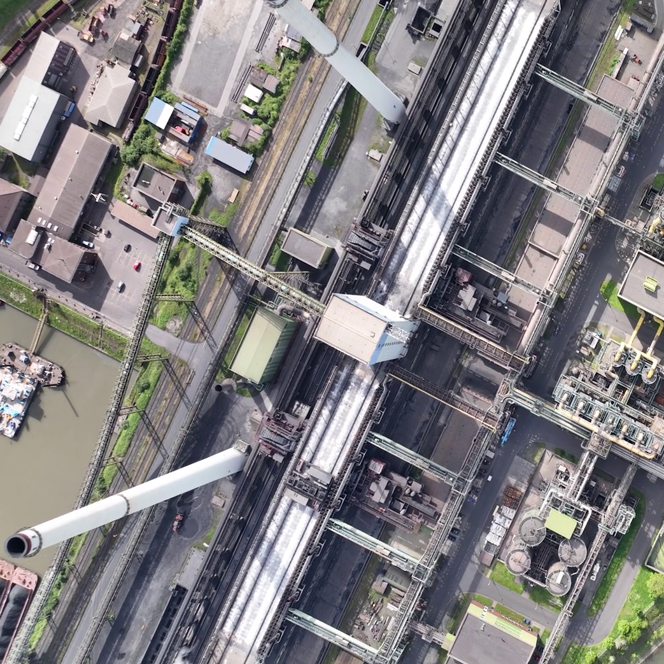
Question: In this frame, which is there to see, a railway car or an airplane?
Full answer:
There is a railway car in the scene.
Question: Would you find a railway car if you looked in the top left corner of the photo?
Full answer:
Yes, in the top left corner of the photo there is a railway car.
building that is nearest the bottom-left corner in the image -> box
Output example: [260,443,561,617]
[177,546,209,590]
